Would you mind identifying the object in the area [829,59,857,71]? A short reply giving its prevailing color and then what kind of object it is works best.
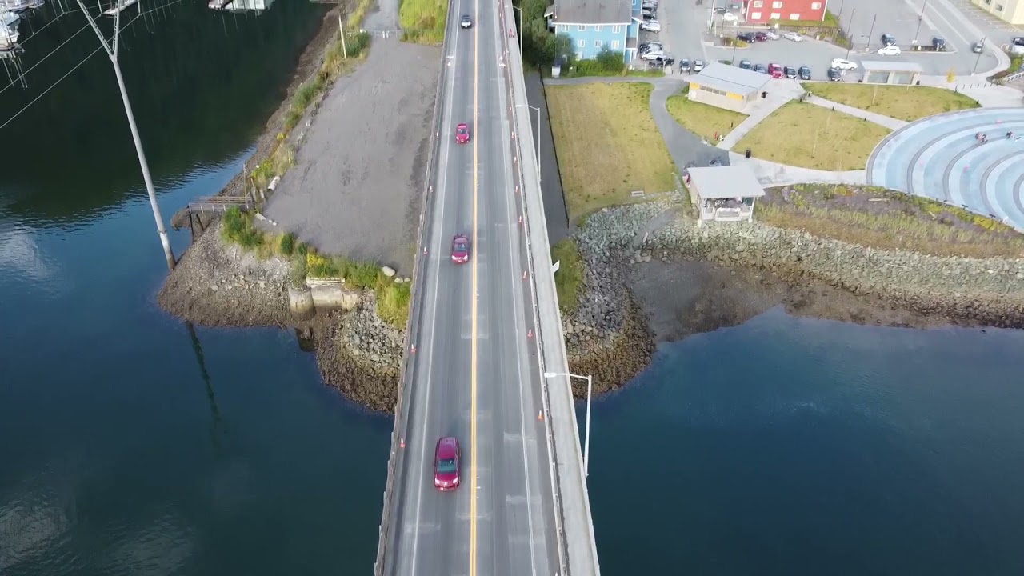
white vehicle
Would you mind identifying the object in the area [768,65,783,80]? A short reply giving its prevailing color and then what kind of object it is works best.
pink vehicle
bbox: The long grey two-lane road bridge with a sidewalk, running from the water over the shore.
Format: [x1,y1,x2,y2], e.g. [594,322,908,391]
[371,0,602,576]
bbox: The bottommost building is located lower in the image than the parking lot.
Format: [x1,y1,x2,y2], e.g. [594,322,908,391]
[687,161,766,220]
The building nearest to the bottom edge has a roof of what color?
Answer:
white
